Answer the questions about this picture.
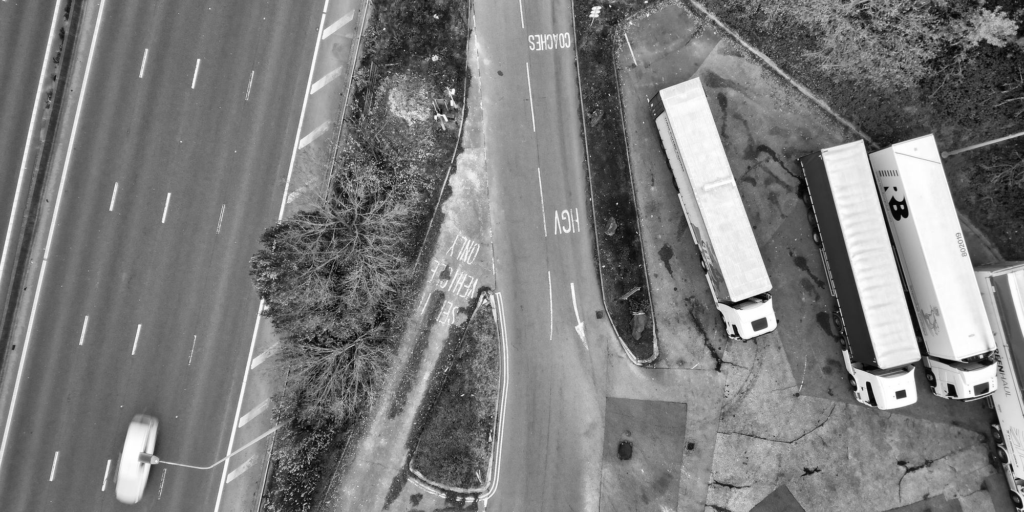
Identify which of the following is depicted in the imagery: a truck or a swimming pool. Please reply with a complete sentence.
Looking from above, you can make out a truck.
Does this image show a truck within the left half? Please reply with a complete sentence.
No, there's no truck to be seen within the left half.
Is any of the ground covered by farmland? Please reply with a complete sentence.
No, the picture contains no farmland.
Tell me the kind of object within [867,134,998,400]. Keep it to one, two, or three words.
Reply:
truck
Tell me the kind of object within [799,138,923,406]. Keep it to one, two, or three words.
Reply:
truck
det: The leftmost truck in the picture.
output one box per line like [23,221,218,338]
[648,77,778,343]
